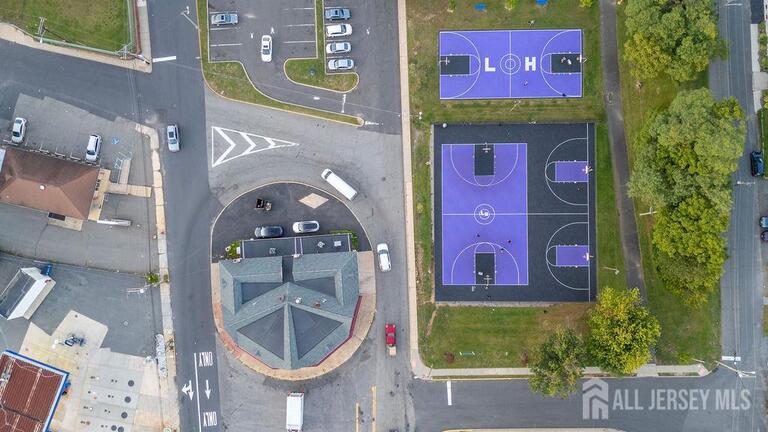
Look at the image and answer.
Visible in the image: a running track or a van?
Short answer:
van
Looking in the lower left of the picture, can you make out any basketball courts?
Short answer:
No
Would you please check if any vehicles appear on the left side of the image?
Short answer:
Yes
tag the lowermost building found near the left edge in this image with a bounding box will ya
[0,267,56,320]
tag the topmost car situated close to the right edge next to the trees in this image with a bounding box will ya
[748,149,764,176]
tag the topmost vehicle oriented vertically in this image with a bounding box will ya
[260,35,272,62]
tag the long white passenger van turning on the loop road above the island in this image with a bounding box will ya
[322,169,358,201]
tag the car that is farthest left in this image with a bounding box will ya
[12,117,29,144]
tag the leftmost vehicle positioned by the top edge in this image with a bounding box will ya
[212,12,239,26]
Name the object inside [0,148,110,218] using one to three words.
building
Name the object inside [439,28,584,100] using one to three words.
basketball court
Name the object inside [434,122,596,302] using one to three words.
basketball court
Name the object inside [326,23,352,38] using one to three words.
car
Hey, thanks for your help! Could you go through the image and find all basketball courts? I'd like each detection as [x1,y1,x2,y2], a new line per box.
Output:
[545,214,590,301]
[439,28,584,100]
[434,122,596,302]
[545,123,589,214]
